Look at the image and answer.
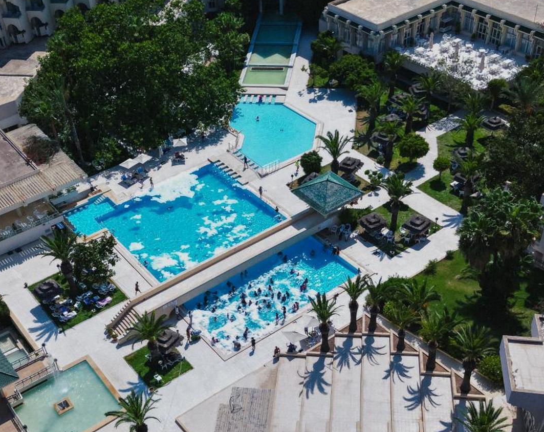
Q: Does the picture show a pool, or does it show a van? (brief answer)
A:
pool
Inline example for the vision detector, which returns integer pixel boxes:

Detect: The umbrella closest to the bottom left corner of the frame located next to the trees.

[36,278,63,301]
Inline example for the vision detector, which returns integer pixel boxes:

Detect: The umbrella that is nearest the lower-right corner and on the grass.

[401,216,434,240]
